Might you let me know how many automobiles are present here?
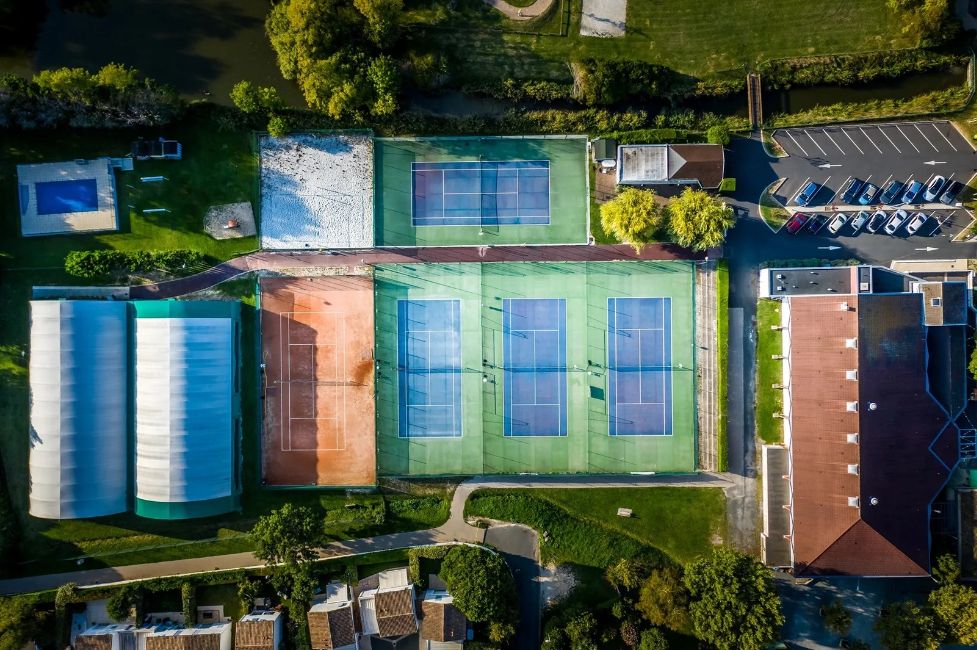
14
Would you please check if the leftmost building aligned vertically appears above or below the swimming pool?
below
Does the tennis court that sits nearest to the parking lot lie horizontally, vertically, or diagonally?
vertically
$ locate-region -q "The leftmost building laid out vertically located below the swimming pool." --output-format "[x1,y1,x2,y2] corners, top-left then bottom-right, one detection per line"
[29,299,129,519]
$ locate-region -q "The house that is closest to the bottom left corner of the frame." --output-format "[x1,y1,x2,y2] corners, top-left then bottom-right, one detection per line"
[73,621,125,650]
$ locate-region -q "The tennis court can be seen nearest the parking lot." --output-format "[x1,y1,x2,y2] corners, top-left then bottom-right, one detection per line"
[589,261,695,472]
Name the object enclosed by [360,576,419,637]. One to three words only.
house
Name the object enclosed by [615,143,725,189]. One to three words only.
building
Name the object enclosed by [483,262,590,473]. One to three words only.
tennis court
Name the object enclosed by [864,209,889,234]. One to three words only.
car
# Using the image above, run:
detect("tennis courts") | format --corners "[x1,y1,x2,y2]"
[375,262,484,475]
[375,136,588,246]
[260,277,377,487]
[589,261,695,472]
[483,262,590,473]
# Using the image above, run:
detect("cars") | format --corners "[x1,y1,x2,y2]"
[805,212,827,236]
[864,209,889,234]
[839,177,864,203]
[900,179,924,204]
[849,210,870,232]
[883,209,908,235]
[879,178,904,204]
[794,181,818,206]
[940,179,965,204]
[786,212,809,235]
[904,211,927,235]
[825,211,847,234]
[923,176,947,201]
[858,182,879,205]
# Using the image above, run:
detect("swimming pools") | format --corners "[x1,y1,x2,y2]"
[16,157,135,237]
